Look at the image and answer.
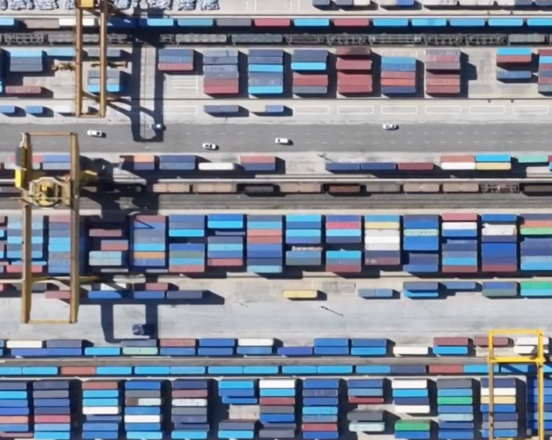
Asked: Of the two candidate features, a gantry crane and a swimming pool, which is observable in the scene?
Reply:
gantry crane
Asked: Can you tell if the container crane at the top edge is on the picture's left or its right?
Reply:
left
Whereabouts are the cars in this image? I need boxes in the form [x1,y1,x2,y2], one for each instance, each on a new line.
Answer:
[149,124,163,130]
[275,138,288,143]
[384,124,397,130]
[88,131,101,136]
[202,143,215,149]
